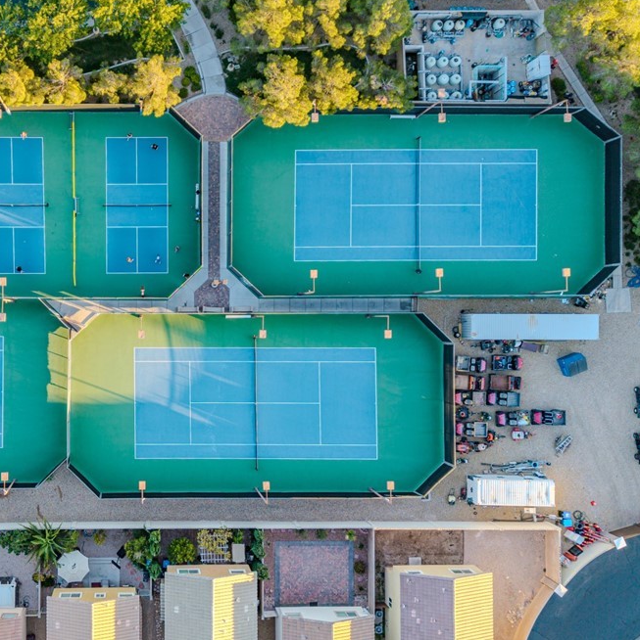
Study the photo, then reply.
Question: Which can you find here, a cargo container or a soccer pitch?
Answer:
cargo container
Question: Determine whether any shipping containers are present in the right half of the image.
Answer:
Yes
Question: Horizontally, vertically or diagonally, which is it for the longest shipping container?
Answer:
horizontally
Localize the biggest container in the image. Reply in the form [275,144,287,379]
[460,314,599,340]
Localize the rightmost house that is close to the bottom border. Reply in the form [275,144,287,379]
[390,568,496,640]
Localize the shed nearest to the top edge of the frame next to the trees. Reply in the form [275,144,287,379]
[518,53,554,85]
